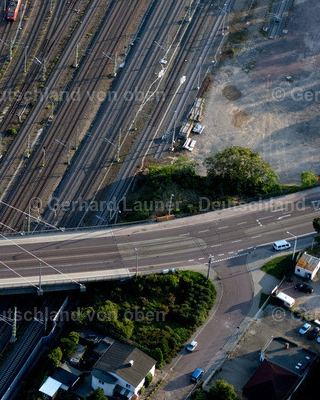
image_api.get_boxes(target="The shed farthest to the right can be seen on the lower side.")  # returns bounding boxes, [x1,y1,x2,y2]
[294,253,320,281]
